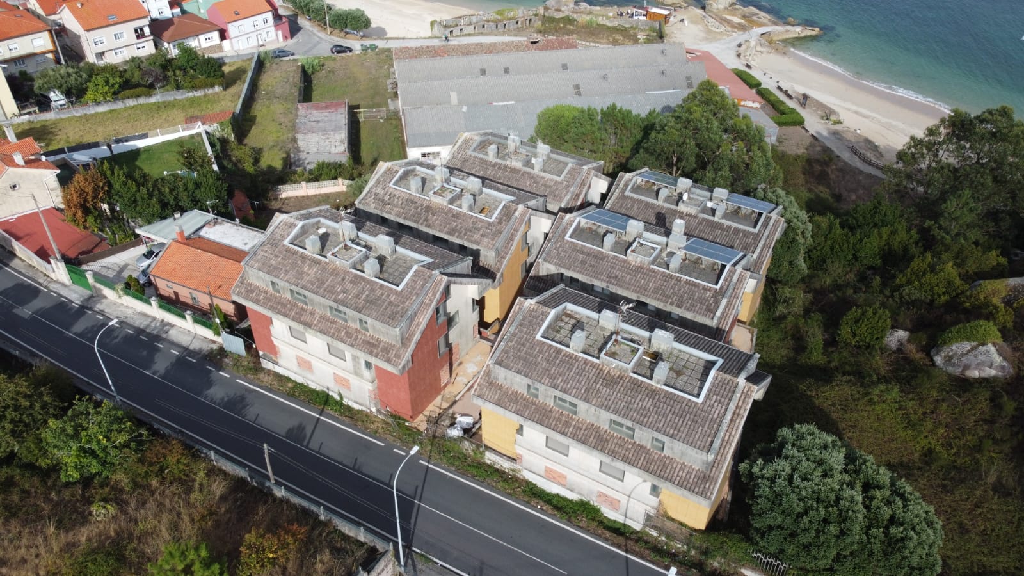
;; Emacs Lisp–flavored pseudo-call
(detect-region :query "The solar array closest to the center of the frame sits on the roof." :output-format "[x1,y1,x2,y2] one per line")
[581,204,631,247]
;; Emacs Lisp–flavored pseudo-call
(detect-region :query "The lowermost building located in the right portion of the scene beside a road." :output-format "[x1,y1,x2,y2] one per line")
[472,281,770,562]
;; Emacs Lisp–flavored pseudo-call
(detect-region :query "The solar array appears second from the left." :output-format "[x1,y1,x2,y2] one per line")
[639,167,681,201]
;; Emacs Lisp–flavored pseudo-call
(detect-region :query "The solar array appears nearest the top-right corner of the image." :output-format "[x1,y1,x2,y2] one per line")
[725,190,774,223]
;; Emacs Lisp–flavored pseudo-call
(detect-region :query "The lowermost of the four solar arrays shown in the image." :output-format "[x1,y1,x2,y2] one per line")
[681,234,739,277]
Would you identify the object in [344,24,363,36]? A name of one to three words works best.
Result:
vehicle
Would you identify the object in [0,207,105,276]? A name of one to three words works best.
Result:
shed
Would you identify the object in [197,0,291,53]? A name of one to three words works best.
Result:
house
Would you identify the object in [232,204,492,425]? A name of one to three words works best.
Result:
building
